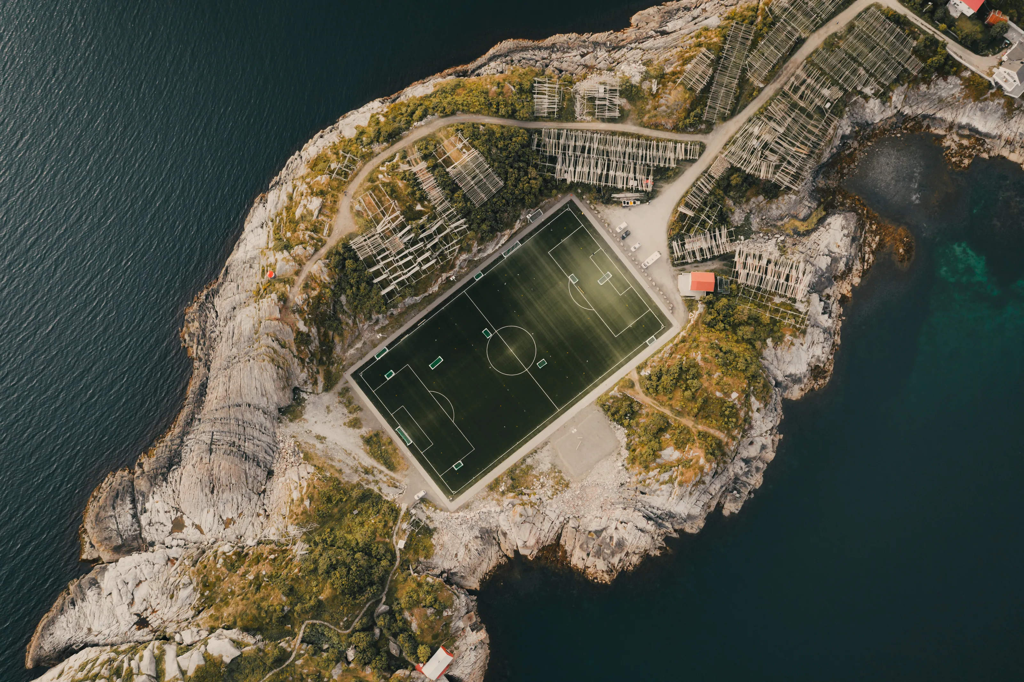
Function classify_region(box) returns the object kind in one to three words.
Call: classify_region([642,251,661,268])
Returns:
vehicle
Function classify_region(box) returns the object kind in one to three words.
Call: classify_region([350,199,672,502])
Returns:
sports field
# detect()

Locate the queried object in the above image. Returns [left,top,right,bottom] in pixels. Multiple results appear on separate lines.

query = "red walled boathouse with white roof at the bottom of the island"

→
[422,645,453,680]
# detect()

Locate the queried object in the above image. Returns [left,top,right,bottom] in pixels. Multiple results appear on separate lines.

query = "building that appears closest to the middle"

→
[689,272,715,292]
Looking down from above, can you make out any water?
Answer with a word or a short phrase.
Yes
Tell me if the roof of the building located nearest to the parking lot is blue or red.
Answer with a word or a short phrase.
red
